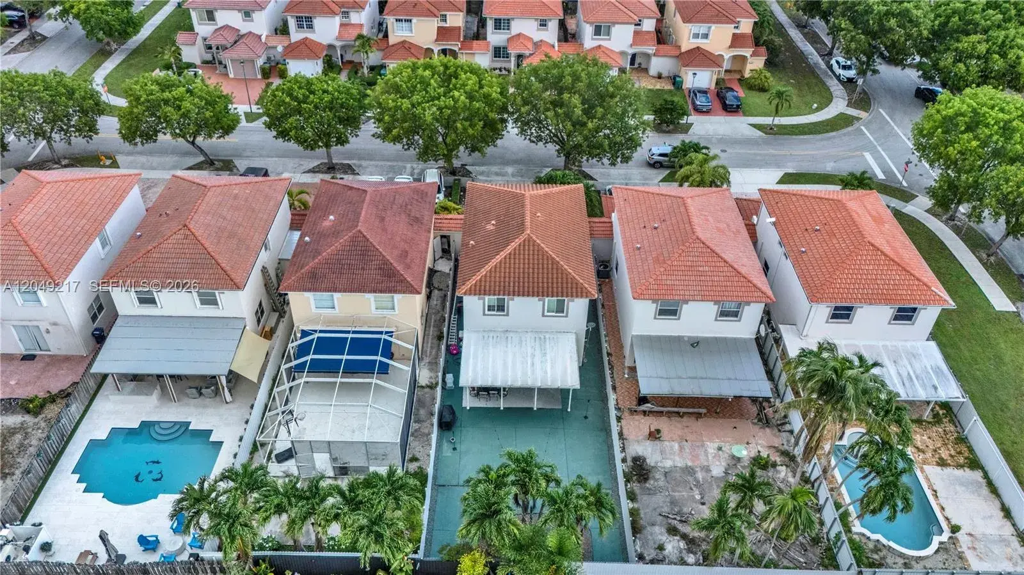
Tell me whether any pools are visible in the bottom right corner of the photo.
Yes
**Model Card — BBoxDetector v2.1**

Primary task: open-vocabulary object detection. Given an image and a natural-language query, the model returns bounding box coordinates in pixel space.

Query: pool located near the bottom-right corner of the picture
[824,422,959,566]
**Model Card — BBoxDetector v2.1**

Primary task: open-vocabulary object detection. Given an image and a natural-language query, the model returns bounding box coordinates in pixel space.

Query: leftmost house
[0,168,144,353]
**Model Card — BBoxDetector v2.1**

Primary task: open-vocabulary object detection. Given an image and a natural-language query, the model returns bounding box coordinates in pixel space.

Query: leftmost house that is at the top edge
[178,0,289,77]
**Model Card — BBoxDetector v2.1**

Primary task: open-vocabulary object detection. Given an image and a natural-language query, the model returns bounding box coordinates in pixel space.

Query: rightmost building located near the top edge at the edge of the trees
[664,0,764,88]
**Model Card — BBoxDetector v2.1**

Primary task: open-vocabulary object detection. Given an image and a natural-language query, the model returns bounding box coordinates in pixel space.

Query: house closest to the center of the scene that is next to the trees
[455,179,599,412]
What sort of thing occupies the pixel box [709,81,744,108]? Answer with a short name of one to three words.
car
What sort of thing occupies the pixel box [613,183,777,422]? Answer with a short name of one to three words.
house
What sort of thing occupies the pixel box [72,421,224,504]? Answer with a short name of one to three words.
swimming pool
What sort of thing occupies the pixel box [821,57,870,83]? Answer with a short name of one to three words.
car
